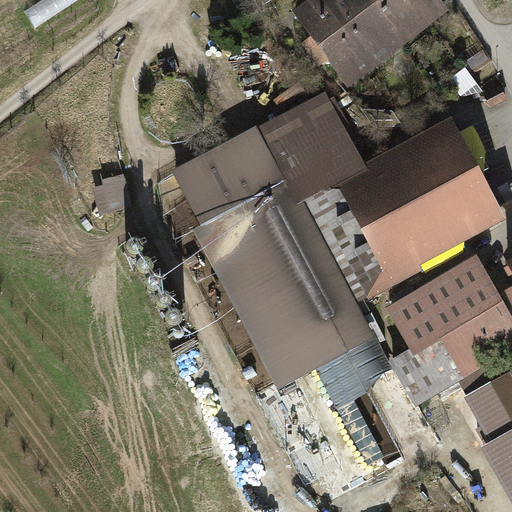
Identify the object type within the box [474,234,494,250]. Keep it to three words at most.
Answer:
car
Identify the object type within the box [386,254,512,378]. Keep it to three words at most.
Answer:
building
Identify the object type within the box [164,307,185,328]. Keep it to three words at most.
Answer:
silo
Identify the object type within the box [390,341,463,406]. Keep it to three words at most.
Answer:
shed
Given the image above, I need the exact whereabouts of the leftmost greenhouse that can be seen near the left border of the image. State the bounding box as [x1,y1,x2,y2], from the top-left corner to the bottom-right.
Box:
[24,0,76,28]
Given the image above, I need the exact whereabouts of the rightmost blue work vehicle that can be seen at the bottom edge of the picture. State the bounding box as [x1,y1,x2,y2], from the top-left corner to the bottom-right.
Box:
[470,482,484,503]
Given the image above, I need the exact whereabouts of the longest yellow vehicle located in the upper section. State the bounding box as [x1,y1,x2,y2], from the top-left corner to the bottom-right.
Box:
[259,80,274,106]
